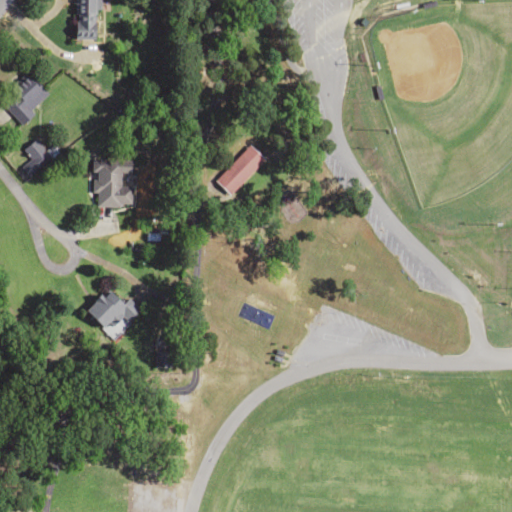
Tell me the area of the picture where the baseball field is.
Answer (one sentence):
The baseball field sits in the top right section of the image.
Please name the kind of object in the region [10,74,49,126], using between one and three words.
house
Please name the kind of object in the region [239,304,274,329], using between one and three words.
sports court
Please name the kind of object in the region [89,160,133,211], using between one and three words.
house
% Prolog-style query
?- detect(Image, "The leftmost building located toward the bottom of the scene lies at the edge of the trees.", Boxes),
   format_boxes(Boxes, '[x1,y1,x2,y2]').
[88,290,141,343]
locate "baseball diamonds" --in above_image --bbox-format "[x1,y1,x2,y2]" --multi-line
[365,4,512,208]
